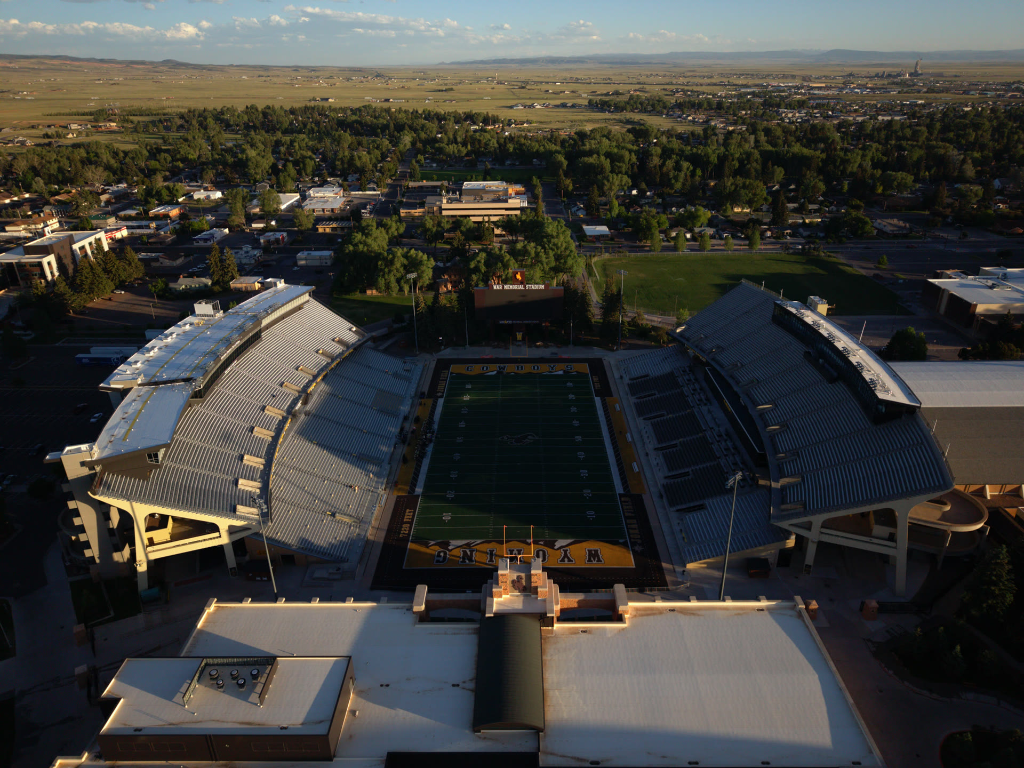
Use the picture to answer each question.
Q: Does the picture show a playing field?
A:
Yes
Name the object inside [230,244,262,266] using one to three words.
building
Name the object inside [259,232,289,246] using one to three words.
building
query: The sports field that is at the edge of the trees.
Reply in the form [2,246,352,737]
[379,363,660,584]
